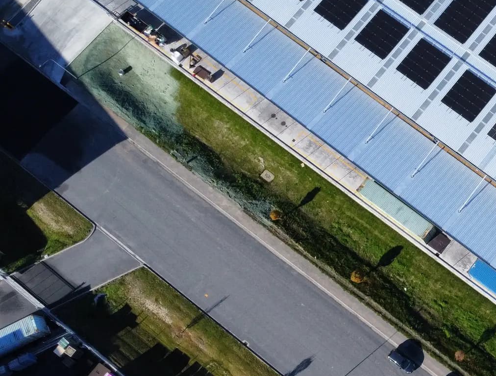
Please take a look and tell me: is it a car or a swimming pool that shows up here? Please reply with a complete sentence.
The image shows a car.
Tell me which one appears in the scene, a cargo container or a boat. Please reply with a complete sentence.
There is a cargo container in the scene.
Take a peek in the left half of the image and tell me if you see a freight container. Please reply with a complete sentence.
Yes, a freight container appears in the left half of the image.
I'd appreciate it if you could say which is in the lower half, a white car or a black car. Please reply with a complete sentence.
Looking in the lower half, you will find a black car.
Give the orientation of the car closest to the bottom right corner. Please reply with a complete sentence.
In this picture, the car closest to the bottom right corner is oriented diagonally.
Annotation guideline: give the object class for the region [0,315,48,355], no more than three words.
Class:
shipping container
